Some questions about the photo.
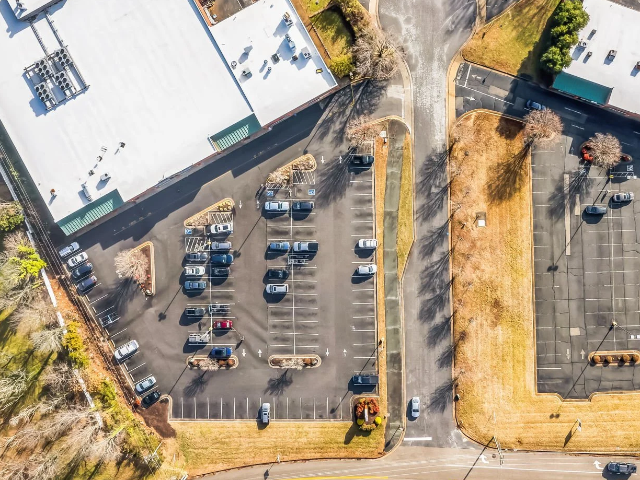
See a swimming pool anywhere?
No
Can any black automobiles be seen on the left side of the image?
Yes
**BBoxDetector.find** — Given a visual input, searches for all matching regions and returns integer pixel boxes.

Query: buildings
[0,0,339,236]
[549,0,640,122]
